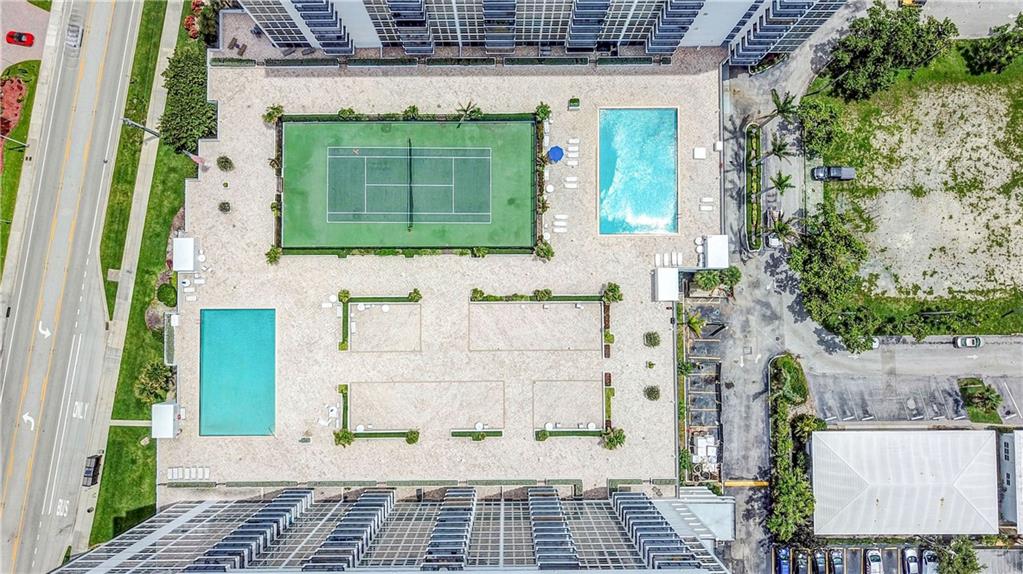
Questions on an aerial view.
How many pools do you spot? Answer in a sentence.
The count of pools comes to 2.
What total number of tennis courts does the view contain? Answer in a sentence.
The picture shows 1 tennis court.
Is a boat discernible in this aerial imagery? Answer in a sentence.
No, no boat can be seen from above.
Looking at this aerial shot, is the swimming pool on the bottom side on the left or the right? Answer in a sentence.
The swimming pool on the bottom side sits on the left side.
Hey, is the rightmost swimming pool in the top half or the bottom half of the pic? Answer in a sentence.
It is in the top half that the rightmost swimming pool appears.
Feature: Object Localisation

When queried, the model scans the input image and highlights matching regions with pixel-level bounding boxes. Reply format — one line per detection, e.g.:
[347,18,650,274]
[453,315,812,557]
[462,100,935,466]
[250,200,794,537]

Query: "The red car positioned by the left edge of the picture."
[7,32,37,48]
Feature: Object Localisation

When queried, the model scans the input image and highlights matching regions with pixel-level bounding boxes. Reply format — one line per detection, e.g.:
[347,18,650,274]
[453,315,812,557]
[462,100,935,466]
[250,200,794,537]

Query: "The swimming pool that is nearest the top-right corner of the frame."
[596,106,681,236]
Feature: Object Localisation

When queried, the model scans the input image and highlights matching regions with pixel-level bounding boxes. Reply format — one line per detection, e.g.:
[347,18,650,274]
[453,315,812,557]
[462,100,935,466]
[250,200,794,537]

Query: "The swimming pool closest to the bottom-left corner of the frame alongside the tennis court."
[198,306,278,438]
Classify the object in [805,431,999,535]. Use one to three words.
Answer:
building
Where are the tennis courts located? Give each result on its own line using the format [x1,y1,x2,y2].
[276,116,536,249]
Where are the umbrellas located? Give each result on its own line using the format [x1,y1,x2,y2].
[548,143,564,159]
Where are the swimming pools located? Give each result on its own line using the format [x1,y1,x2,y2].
[198,306,278,438]
[596,106,681,236]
